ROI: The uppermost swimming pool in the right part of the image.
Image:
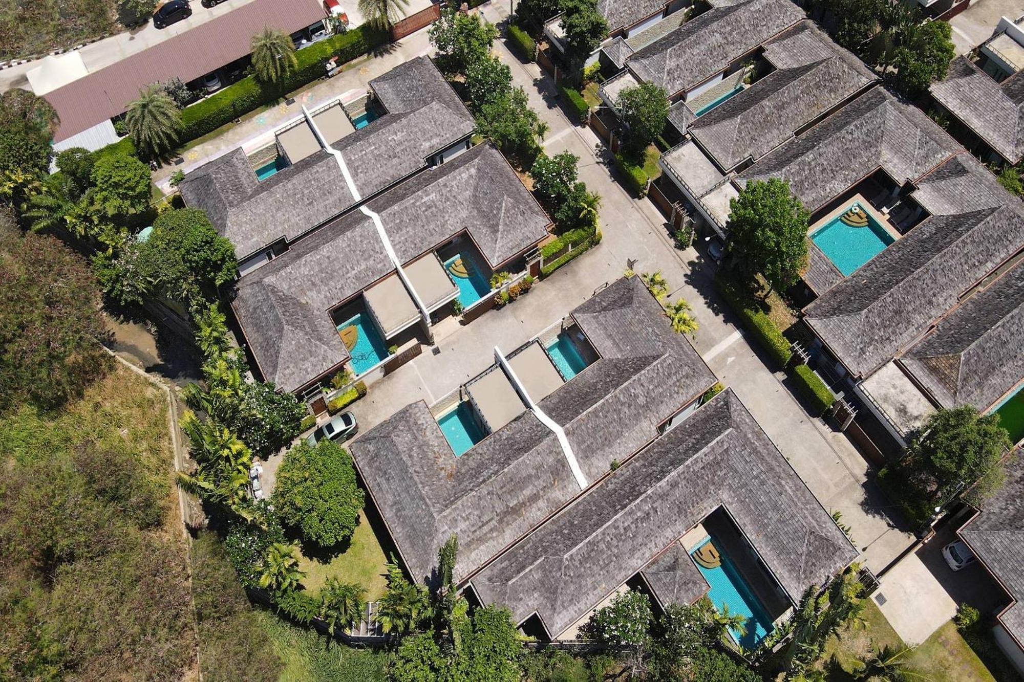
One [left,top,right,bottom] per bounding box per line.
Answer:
[697,79,753,119]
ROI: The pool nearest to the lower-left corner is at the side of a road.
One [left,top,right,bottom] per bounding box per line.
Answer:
[336,310,392,377]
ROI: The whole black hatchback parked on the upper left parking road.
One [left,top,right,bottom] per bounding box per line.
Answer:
[152,0,189,22]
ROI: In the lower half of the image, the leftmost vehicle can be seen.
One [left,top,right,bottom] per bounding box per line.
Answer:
[302,411,359,450]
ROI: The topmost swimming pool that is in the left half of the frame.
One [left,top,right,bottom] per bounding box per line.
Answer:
[352,103,384,129]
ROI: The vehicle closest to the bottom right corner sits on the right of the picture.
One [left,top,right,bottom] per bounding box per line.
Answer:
[938,541,976,575]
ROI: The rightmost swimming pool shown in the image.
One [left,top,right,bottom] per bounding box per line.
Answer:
[981,381,1024,449]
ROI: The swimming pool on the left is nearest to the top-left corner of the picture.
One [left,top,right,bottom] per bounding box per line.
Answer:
[253,151,290,179]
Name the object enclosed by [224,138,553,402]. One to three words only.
house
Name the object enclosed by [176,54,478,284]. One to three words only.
house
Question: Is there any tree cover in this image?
Yes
